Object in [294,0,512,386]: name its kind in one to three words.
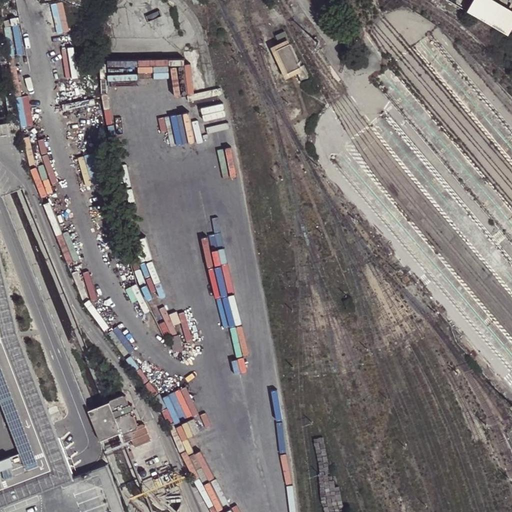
train station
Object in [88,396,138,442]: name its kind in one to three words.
building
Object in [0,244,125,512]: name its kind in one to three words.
building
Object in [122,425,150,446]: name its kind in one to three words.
shed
